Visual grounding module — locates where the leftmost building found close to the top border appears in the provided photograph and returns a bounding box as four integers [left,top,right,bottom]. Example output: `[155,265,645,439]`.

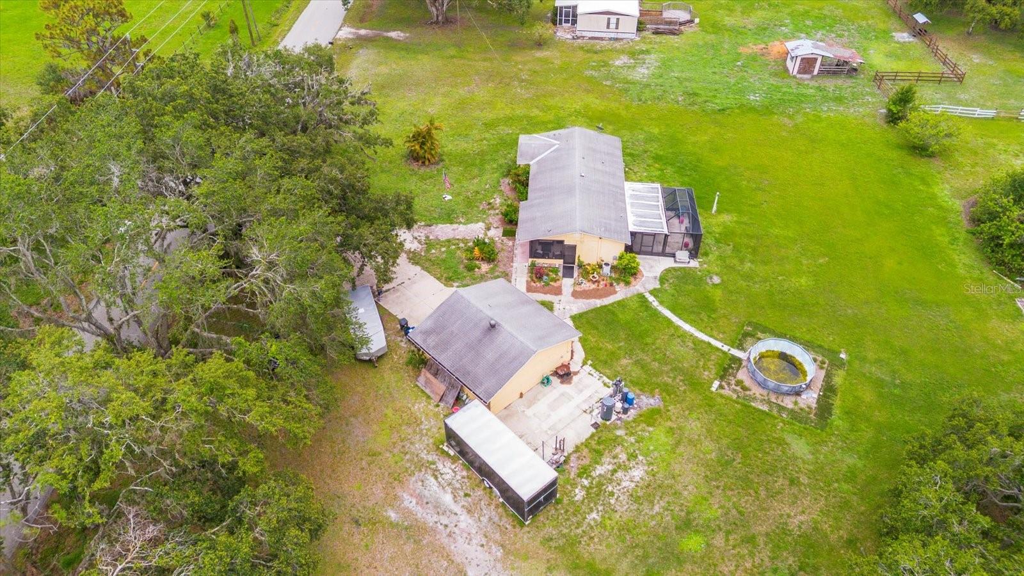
[557,0,641,38]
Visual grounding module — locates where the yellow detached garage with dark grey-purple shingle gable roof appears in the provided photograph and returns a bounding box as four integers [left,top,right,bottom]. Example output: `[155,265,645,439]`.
[407,277,581,415]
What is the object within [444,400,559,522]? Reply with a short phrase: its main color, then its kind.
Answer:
white trailer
